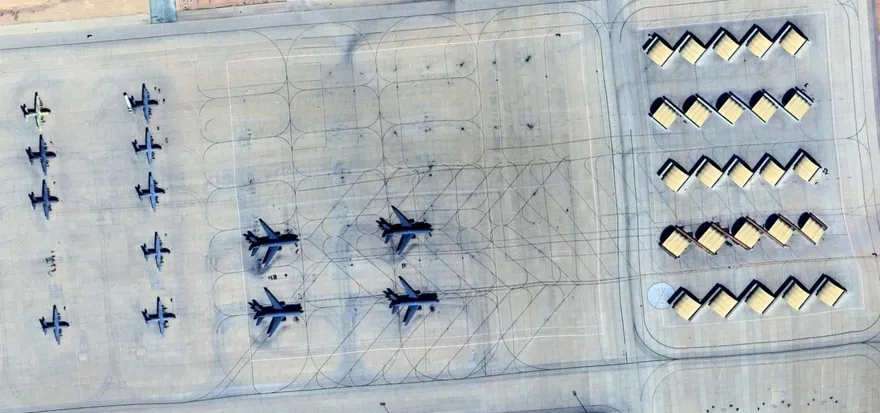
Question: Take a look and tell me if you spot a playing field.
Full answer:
No, this view has no playing field in it.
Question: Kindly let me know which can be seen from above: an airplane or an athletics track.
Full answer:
The one in the frame is an airplane.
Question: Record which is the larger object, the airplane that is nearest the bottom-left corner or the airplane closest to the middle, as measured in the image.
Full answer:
Of the two, the airplane closest to the middle is bigger, while the airplane that is nearest the bottom-left corner is smaller.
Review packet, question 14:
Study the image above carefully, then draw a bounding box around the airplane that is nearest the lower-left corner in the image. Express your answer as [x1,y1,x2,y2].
[44,311,69,344]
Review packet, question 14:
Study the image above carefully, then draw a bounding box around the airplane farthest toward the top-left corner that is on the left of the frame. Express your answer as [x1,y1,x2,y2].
[25,97,50,131]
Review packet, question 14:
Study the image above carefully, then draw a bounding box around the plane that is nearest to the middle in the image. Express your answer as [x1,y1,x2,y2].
[382,210,432,256]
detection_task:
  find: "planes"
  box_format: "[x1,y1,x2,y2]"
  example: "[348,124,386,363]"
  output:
[254,291,303,337]
[148,303,173,337]
[133,90,157,124]
[44,311,69,344]
[249,219,299,265]
[30,142,55,175]
[389,282,439,327]
[136,132,160,166]
[144,238,169,271]
[382,210,432,256]
[25,97,50,131]
[139,178,164,211]
[33,185,58,219]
